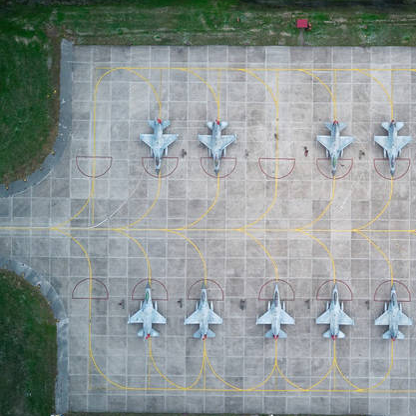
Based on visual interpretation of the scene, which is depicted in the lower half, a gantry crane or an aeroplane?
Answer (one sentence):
The one visible in the lower half is an aeroplane.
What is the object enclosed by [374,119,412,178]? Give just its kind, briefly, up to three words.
airplane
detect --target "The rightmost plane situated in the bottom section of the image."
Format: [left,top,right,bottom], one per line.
[374,285,413,341]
